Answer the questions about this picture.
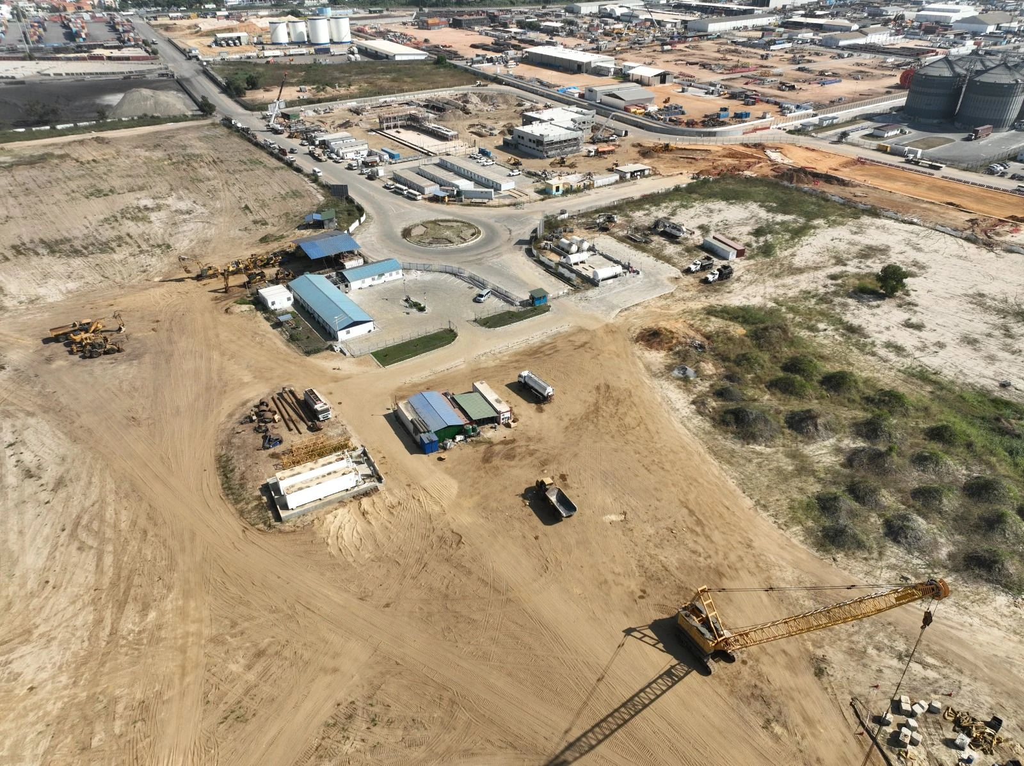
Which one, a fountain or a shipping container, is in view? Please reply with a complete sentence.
There is a shipping container in the scene.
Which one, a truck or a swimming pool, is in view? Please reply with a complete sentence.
The one in the frame is a truck.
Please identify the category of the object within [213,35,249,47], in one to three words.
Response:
shed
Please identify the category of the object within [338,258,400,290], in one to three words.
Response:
building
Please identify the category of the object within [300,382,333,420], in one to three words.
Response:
truck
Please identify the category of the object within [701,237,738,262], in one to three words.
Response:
shipping container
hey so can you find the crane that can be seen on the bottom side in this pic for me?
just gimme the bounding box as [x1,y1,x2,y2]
[669,576,957,766]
